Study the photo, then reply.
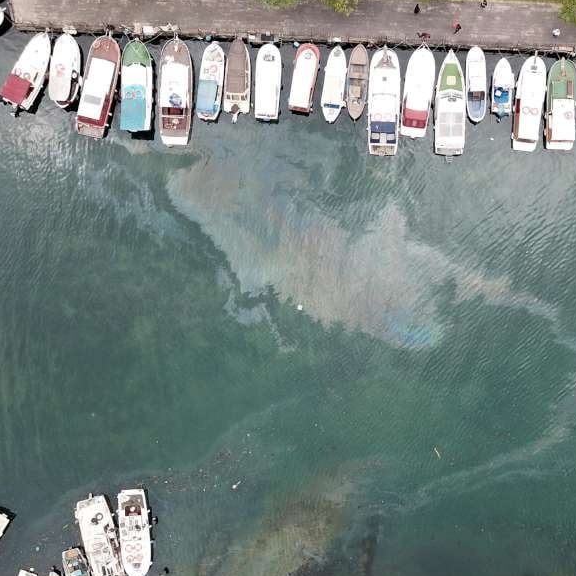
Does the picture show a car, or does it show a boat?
boat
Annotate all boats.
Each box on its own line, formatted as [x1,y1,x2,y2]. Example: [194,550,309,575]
[114,33,157,137]
[285,41,322,116]
[490,58,514,122]
[63,545,89,576]
[223,34,254,119]
[398,40,436,140]
[346,43,368,126]
[363,40,401,158]
[117,487,157,576]
[542,52,576,151]
[464,47,487,125]
[509,49,548,153]
[318,46,349,125]
[73,28,121,142]
[74,493,124,576]
[193,40,225,123]
[0,28,50,118]
[17,566,39,576]
[430,49,467,164]
[156,30,196,149]
[46,34,83,111]
[253,41,284,127]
